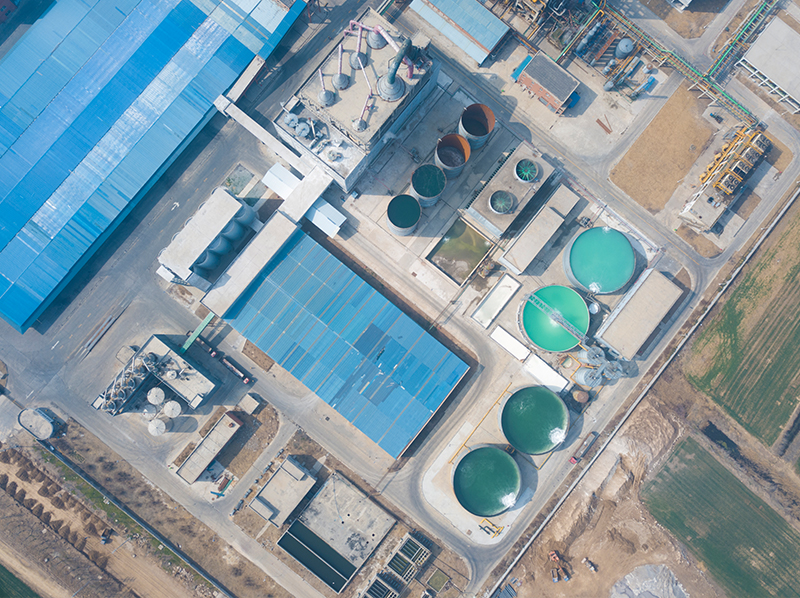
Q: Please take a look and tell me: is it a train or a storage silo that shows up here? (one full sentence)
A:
This aerial view contains a storage silo.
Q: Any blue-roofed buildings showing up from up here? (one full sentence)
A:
Yes, the frame does contain a blue-roofed building.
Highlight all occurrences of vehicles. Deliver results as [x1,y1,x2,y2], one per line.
[184,331,217,359]
[558,566,572,585]
[549,550,566,578]
[97,530,111,546]
[219,356,249,385]
[570,433,598,467]
[581,557,598,575]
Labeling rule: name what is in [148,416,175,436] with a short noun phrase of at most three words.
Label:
silo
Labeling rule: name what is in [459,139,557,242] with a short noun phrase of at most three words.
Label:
cooling tower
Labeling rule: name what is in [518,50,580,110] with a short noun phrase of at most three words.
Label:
building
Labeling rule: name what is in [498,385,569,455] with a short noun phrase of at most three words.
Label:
storage tank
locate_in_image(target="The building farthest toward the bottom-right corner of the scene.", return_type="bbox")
[595,270,684,361]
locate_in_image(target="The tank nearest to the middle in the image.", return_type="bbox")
[387,194,421,235]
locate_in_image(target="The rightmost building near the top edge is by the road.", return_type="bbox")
[726,16,800,124]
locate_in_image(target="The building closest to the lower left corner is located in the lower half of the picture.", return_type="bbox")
[17,407,60,441]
